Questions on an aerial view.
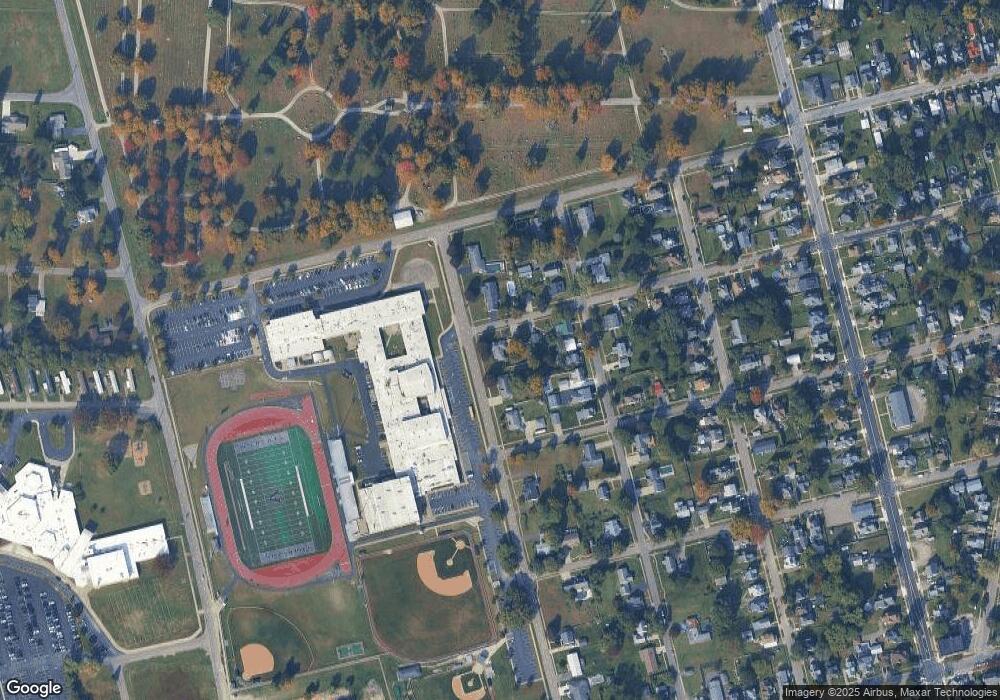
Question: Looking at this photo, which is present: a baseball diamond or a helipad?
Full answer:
Looking from above, you can make out a baseball diamond.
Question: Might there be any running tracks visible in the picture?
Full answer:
Yes, looking at the shot, I can spot a running track.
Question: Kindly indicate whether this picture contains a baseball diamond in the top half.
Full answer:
No, the scene shows no baseball diamond in the top half.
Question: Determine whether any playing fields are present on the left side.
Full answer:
Yes, looking on the left side, one can make out a playing field.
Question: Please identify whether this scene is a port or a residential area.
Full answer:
The area seen from above is a residential area.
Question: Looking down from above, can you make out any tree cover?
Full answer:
Yes, tree cover shows up in the scene.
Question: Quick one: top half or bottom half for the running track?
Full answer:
Seen from above, the running track lies in the bottom half of the view.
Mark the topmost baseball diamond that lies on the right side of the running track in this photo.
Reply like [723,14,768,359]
[364,529,496,660]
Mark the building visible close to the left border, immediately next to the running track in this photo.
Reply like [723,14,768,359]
[0,462,169,589]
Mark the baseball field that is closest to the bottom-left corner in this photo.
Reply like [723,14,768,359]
[228,606,314,689]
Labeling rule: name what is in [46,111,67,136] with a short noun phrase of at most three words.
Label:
house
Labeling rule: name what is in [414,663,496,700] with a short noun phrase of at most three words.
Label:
baseball field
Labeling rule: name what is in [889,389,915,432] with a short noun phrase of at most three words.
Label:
building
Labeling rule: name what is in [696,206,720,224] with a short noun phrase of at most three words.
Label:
house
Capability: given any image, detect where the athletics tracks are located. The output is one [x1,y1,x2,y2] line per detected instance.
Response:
[200,388,353,594]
